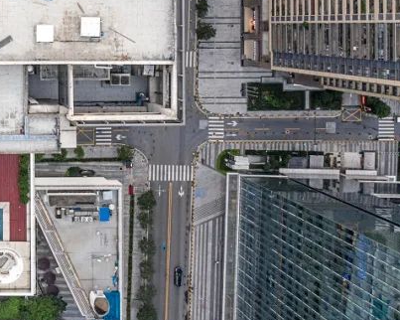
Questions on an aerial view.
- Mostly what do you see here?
buildings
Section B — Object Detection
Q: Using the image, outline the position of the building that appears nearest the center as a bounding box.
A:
[228,155,267,172]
